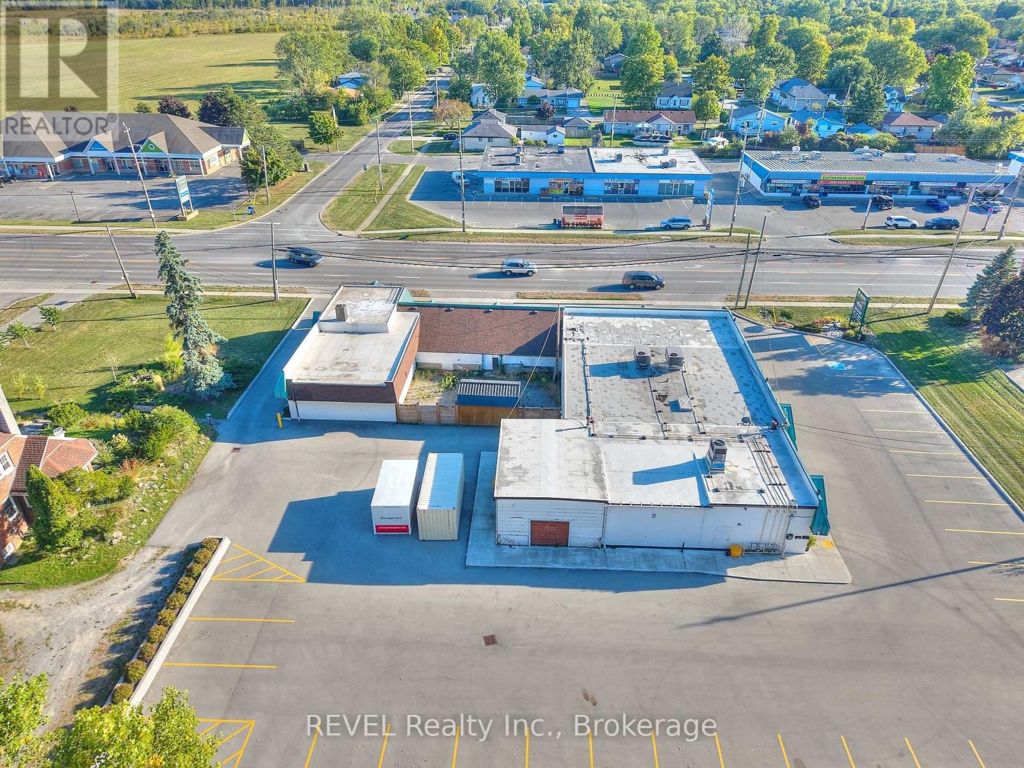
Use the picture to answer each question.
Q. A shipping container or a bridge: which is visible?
shipping container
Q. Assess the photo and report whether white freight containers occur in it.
Yes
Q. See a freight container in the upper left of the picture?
No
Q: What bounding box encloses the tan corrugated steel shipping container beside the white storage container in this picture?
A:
[417,451,467,538]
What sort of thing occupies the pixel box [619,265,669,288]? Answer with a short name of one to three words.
car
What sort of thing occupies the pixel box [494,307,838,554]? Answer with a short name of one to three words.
building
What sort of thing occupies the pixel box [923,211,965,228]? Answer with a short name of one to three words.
car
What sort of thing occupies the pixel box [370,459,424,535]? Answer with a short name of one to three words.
shipping container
